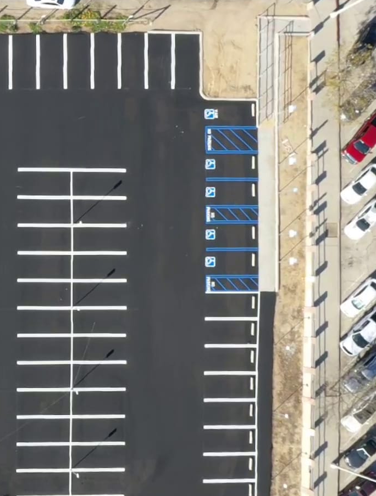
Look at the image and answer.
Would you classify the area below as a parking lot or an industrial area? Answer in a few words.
parking lot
